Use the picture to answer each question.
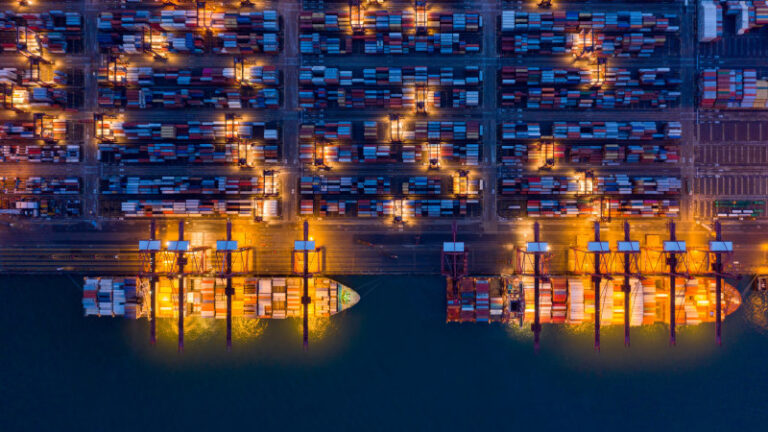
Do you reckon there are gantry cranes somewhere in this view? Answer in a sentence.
Yes, a gantry crane can be made out from above.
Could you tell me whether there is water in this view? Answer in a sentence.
Yes, there's water in this view.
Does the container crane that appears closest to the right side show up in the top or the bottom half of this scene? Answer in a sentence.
The container crane that appears closest to the right side sits in the bottom half of the picture.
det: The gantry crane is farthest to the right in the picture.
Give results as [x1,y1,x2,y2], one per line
[676,222,743,349]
